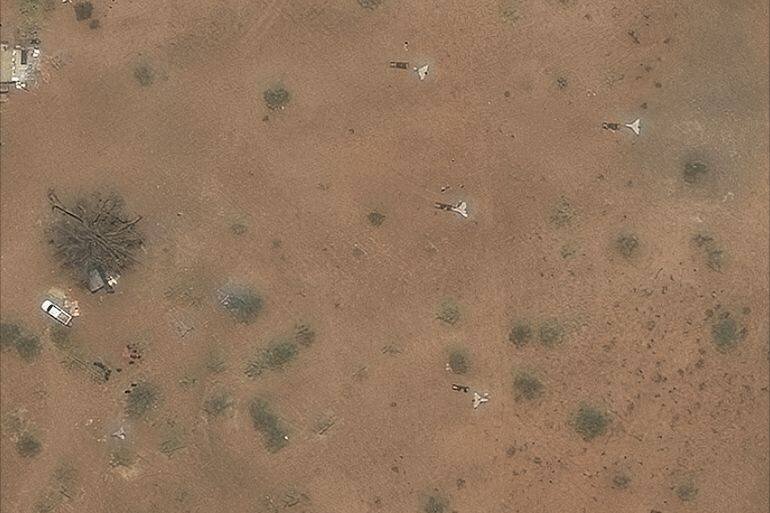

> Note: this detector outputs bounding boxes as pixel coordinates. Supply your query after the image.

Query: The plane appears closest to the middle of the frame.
[451,202,468,217]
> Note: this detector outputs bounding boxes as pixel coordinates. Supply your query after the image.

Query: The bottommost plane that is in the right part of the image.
[472,393,489,408]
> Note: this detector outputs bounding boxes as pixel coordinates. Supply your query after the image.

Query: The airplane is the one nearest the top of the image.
[415,65,431,80]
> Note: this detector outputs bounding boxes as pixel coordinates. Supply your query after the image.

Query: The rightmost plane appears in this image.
[626,119,642,135]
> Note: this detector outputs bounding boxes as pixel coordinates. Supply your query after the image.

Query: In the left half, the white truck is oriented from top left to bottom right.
[39,302,72,329]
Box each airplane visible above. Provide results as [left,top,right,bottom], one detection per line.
[451,202,468,217]
[415,65,431,80]
[112,427,125,439]
[472,393,489,408]
[626,119,642,135]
